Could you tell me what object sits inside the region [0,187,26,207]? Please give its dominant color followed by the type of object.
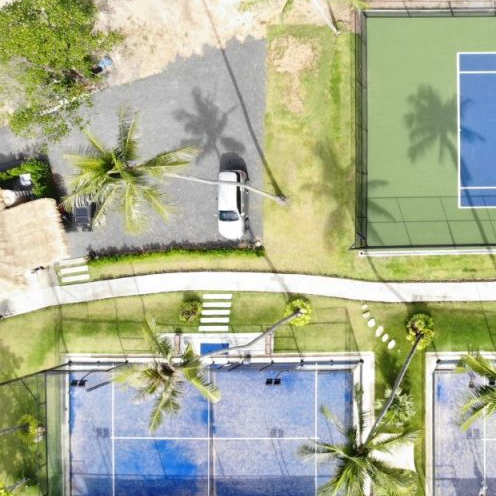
white umbrella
